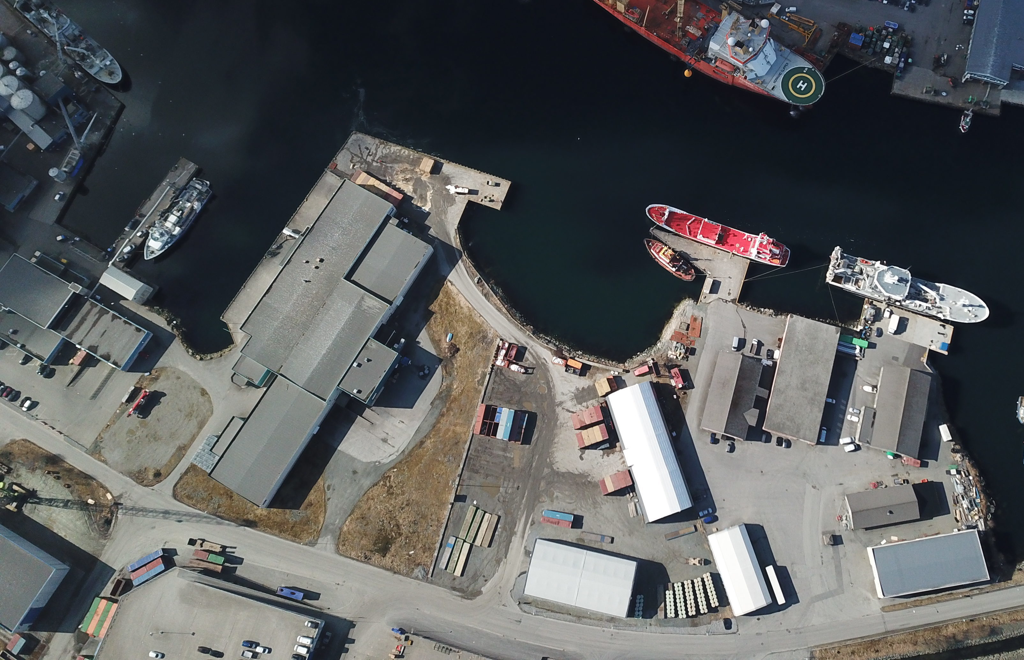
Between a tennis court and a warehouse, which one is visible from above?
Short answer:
warehouse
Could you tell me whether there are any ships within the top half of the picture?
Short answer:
Yes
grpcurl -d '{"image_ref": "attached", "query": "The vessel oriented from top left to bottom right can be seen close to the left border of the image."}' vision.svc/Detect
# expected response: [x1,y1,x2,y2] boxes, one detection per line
[9,0,125,88]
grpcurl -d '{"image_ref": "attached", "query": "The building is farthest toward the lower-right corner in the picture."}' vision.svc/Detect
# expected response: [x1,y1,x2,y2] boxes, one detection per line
[864,530,990,598]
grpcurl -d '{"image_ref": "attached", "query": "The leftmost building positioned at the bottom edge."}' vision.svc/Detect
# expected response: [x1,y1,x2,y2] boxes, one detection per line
[0,524,69,633]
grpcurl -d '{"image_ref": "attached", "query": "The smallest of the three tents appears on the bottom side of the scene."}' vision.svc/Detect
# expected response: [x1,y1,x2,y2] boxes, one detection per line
[707,525,772,616]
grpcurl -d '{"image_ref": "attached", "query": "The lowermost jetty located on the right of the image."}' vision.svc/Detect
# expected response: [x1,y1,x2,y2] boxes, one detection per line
[856,297,955,356]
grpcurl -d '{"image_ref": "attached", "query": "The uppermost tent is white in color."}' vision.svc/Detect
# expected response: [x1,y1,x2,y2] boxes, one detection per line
[607,382,692,523]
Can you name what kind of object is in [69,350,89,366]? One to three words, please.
vehicle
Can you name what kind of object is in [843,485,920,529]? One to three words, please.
shed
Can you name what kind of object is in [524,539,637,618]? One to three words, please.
tent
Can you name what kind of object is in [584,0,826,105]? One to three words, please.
ship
